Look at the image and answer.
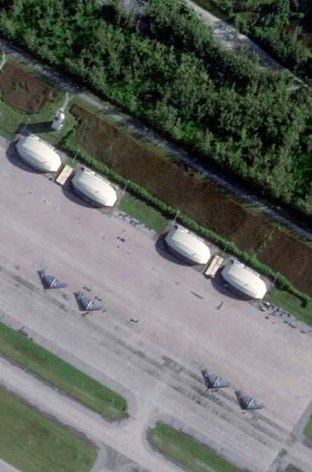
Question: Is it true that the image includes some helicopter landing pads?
No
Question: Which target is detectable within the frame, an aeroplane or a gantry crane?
aeroplane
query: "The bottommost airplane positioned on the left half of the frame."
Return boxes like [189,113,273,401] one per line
[78,291,103,309]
